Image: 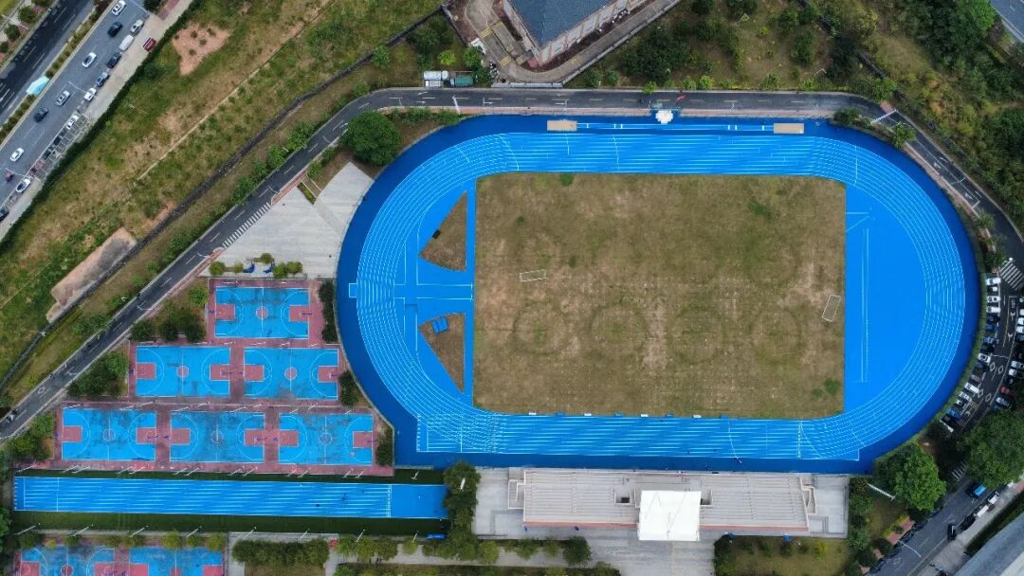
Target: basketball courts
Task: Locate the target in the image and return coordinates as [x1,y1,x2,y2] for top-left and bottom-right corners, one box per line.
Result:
[244,348,338,399]
[62,409,156,462]
[170,411,264,464]
[136,347,230,397]
[215,288,309,339]
[21,547,114,576]
[279,413,373,466]
[129,548,223,576]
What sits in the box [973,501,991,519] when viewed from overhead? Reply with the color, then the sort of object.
white vehicle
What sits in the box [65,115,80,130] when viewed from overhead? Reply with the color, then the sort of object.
white car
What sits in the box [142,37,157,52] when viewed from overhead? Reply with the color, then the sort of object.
red vehicle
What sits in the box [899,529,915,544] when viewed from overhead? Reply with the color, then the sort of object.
black car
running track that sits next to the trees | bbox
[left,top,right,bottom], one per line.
[336,114,982,474]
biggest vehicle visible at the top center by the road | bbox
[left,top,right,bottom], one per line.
[449,74,474,86]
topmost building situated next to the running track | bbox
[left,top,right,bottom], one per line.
[503,0,655,80]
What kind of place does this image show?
sports ground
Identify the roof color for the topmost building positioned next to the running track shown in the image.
blue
